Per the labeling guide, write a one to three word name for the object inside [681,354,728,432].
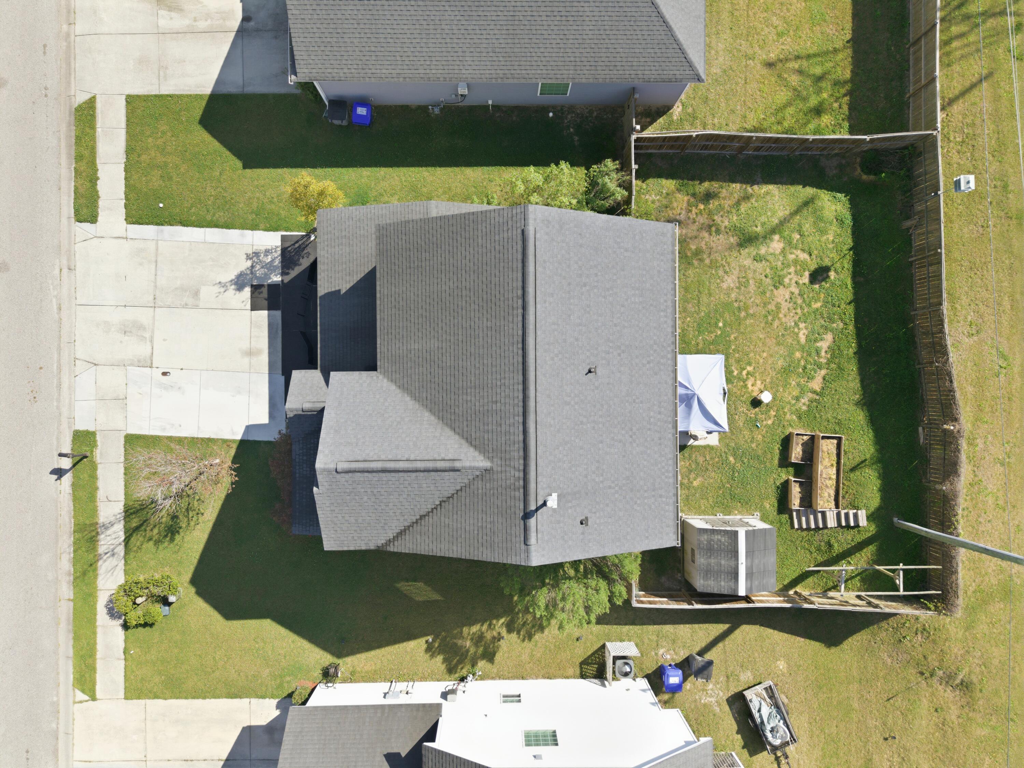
tent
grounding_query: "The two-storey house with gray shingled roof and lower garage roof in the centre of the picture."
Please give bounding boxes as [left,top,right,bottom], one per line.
[286,199,683,564]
